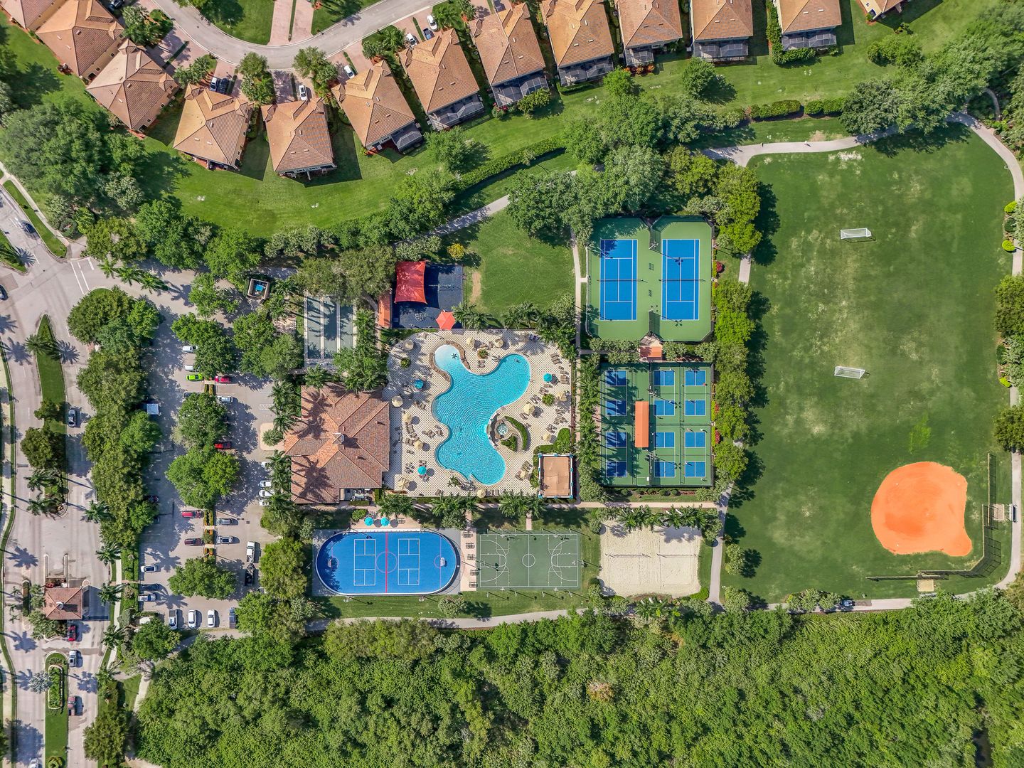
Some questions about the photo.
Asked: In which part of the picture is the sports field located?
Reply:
right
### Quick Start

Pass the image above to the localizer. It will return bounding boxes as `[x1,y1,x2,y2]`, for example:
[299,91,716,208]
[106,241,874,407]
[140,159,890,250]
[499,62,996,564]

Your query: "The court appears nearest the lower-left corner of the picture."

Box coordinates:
[312,529,460,596]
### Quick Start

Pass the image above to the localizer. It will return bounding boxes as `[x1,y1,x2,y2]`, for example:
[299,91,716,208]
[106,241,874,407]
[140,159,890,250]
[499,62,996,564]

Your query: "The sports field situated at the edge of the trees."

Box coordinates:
[724,122,1015,602]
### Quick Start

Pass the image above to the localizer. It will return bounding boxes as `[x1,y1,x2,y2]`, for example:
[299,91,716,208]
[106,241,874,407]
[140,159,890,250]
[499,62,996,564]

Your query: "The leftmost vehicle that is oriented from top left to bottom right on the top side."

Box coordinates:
[18,219,32,235]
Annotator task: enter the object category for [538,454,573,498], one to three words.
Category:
building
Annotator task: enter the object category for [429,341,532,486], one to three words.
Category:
swimming pool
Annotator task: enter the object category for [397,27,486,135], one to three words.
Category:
house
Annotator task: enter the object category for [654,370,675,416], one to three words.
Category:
sports court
